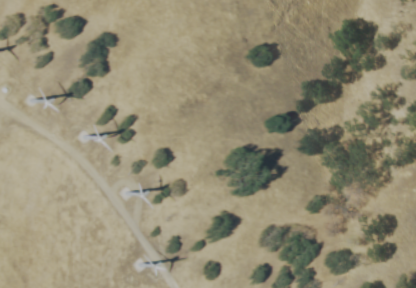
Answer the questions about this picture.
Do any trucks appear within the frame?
No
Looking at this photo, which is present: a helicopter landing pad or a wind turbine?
wind turbine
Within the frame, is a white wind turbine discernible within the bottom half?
Yes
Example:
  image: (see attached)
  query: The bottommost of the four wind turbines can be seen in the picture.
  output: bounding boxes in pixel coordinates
[134,255,162,276]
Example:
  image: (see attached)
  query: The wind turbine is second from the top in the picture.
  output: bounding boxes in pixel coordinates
[78,124,107,148]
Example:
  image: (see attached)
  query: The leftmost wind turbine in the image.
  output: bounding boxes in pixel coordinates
[25,86,52,108]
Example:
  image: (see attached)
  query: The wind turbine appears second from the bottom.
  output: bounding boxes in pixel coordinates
[120,183,149,207]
